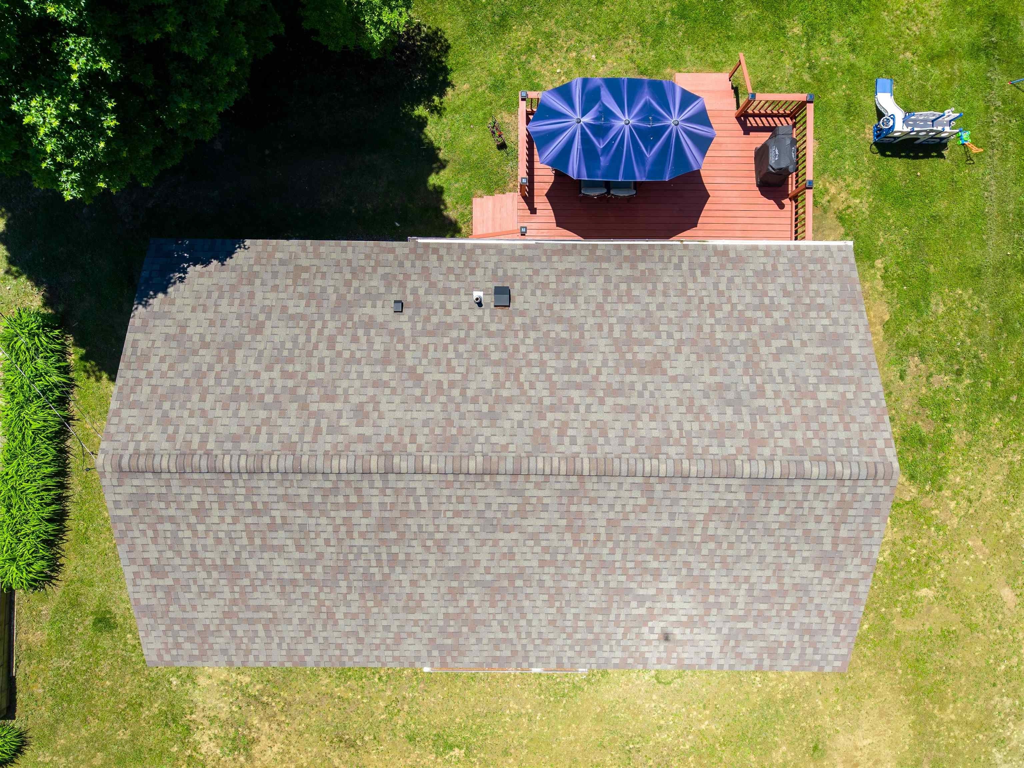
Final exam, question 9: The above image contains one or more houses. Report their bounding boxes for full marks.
[84,236,900,674]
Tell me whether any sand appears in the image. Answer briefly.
No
